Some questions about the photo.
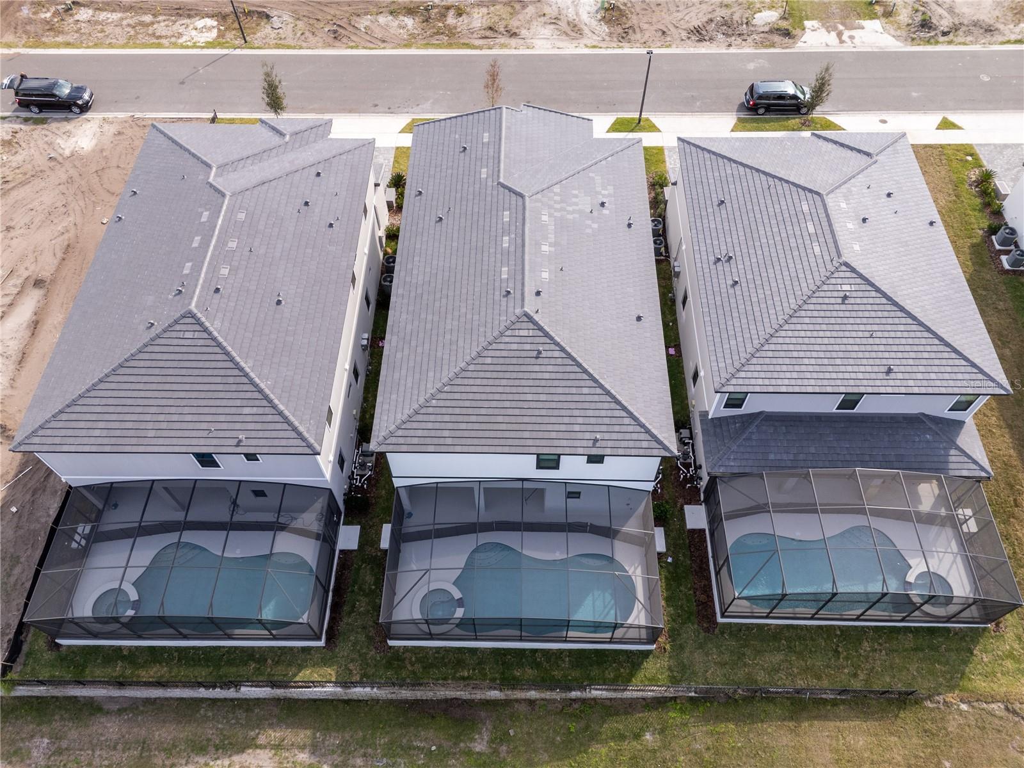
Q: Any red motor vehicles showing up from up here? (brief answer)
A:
No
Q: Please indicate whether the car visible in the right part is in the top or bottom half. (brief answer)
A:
top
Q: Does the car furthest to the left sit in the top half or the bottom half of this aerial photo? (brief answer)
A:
top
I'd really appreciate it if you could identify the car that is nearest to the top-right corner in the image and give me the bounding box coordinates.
[741,76,816,112]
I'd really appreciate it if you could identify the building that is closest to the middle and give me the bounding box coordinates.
[369,103,680,513]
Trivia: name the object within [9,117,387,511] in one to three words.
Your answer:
house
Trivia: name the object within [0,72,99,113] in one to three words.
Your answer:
car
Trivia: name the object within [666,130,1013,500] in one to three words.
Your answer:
house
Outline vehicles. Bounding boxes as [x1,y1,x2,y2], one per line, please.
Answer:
[741,76,816,112]
[0,72,99,113]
